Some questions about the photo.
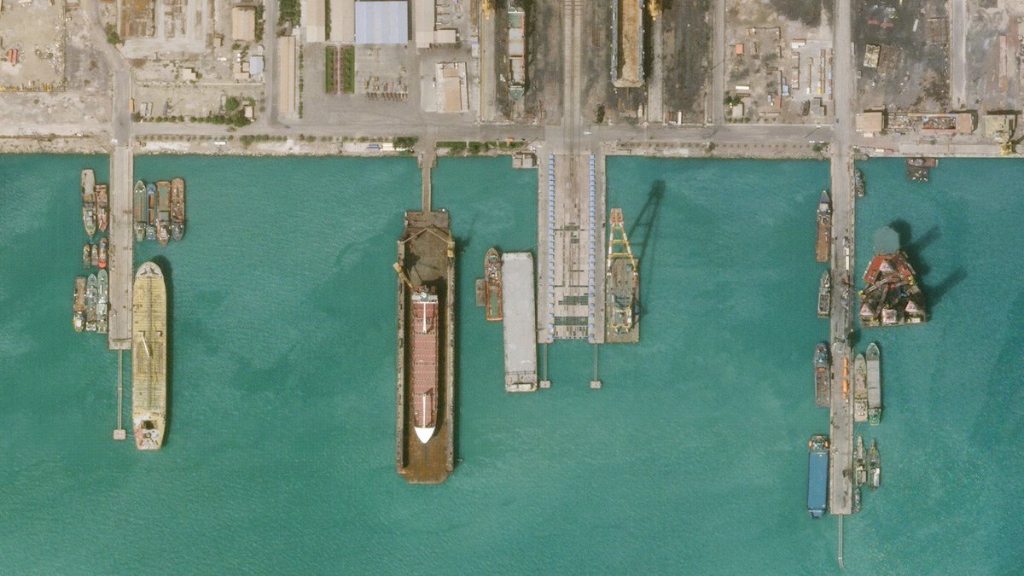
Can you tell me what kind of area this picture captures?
port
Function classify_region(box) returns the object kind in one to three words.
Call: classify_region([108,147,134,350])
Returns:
pier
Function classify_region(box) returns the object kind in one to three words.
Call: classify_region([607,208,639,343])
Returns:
crane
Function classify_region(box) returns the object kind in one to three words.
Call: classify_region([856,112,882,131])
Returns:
building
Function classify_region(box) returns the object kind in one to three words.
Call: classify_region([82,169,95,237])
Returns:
ship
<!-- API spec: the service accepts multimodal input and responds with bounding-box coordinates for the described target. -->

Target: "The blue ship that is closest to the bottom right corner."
[808,435,829,518]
